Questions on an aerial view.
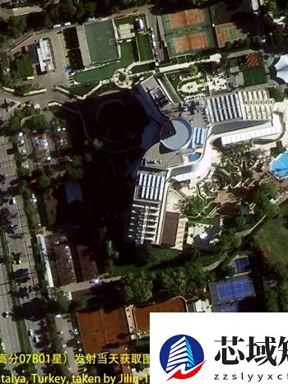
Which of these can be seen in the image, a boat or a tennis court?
tennis court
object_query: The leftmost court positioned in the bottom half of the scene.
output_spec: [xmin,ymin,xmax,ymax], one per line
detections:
[76,305,132,354]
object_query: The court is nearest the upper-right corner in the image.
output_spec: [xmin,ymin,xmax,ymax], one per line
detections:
[215,22,247,48]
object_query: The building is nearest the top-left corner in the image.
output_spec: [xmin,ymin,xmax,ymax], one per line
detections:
[37,39,52,74]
